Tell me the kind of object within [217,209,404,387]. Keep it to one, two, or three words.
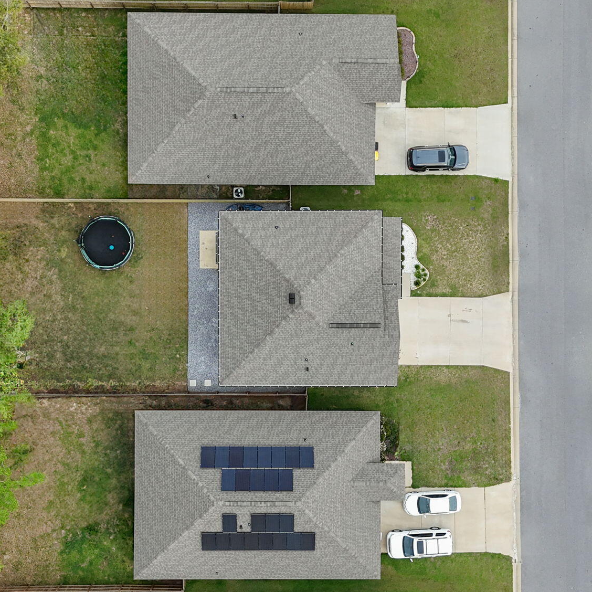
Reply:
house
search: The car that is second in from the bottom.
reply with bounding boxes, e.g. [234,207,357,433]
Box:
[401,487,461,519]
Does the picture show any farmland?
No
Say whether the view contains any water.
No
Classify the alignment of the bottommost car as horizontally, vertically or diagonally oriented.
horizontally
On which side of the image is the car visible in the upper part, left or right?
right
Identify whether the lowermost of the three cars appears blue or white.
white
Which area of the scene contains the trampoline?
left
